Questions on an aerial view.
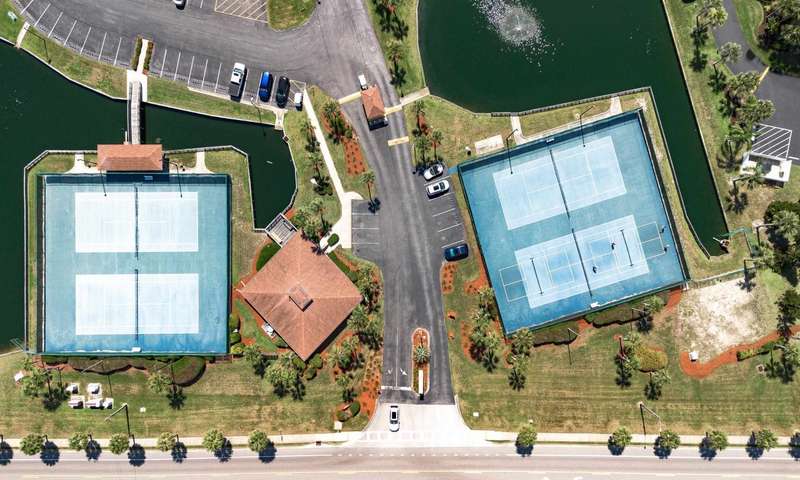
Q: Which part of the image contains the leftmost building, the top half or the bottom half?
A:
top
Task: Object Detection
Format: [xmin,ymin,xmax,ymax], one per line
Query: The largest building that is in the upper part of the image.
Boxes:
[97,144,167,170]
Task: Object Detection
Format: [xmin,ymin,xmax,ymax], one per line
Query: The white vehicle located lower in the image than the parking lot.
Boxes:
[388,406,400,432]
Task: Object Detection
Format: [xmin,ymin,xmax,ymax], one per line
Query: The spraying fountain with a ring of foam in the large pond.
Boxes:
[467,0,564,71]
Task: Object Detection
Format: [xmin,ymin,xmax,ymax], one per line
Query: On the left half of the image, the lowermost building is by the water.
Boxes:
[238,232,362,360]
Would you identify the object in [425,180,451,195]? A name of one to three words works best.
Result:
car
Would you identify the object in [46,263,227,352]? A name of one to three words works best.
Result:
tennis court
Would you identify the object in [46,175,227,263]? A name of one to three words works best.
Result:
tennis court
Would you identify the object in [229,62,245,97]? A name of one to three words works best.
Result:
vehicle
